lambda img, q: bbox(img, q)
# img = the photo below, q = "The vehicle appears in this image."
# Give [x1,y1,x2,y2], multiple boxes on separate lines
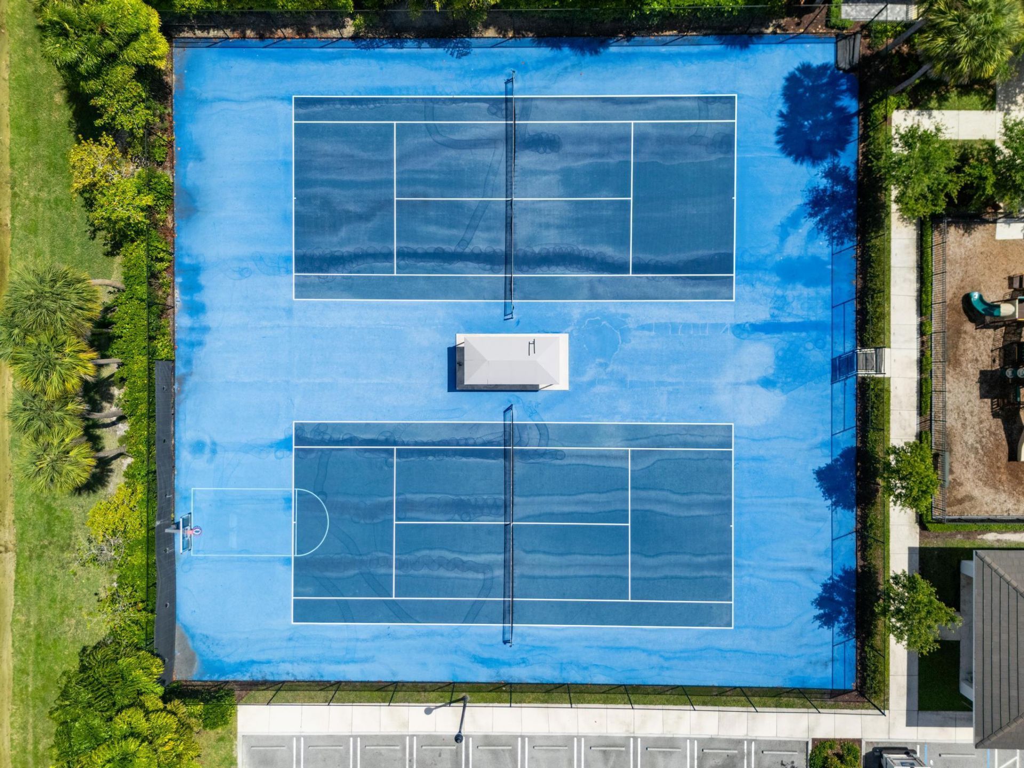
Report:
[881,745,935,768]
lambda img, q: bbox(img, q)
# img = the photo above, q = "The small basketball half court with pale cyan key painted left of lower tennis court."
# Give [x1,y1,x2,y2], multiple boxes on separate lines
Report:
[192,488,329,556]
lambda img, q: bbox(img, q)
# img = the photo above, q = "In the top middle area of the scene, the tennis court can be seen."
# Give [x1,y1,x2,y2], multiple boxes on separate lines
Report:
[293,94,737,301]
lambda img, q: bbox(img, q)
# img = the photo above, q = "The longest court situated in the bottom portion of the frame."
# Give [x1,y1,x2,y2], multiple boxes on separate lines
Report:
[292,421,734,629]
